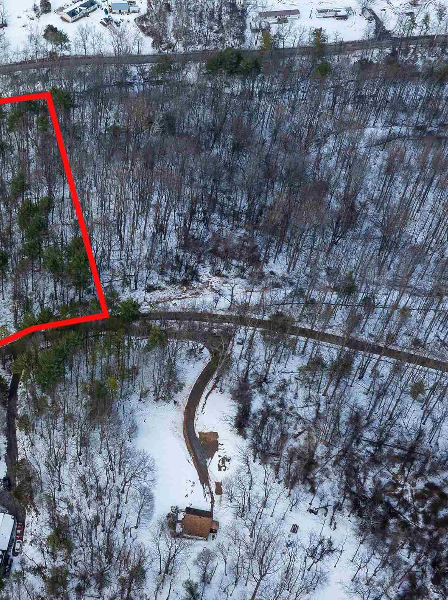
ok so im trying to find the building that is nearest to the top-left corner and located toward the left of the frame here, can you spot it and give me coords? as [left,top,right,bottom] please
[57,0,100,23]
